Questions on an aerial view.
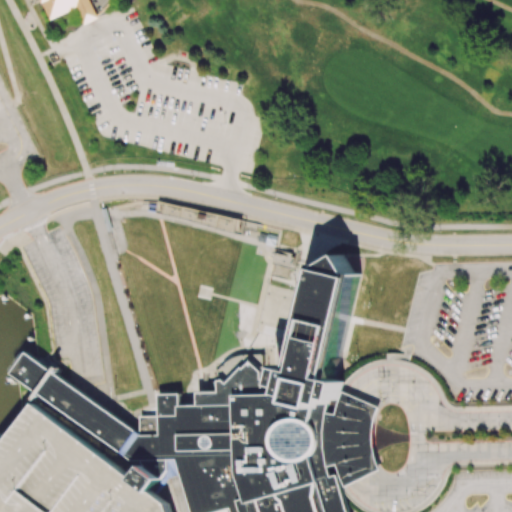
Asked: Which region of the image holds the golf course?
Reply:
top right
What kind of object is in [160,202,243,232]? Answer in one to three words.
building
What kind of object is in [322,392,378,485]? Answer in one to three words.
building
